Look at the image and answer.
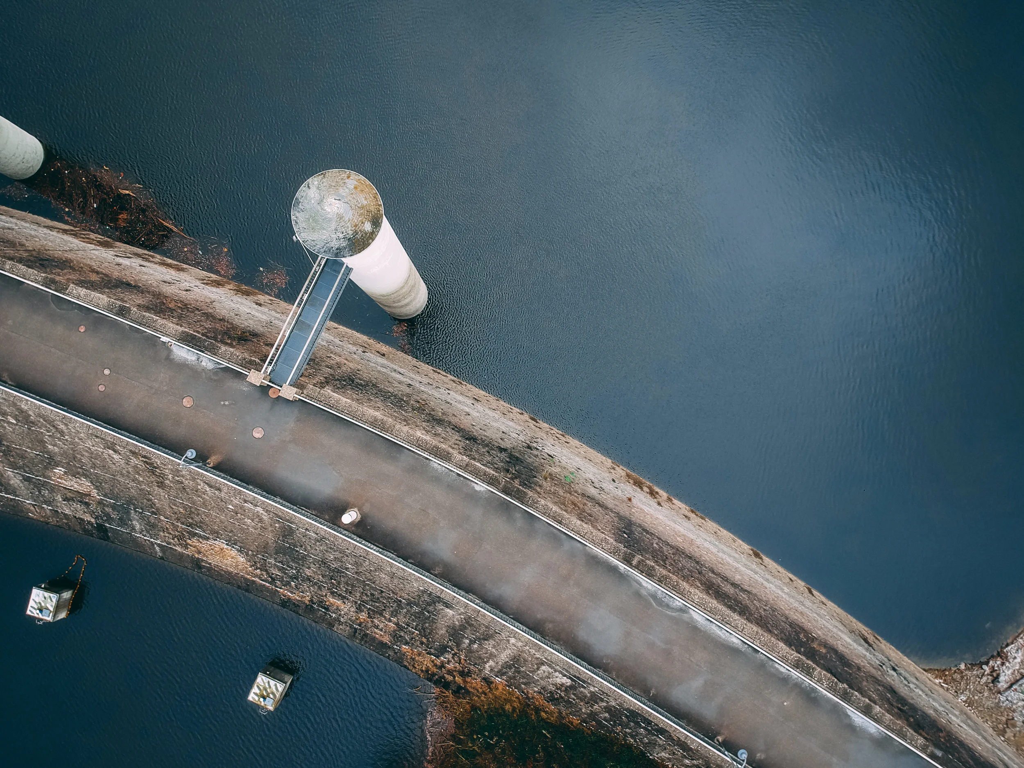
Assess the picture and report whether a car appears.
No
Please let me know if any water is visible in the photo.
Yes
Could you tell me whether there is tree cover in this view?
No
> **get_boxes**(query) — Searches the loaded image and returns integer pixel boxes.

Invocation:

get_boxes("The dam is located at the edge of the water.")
[0,203,1024,768]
